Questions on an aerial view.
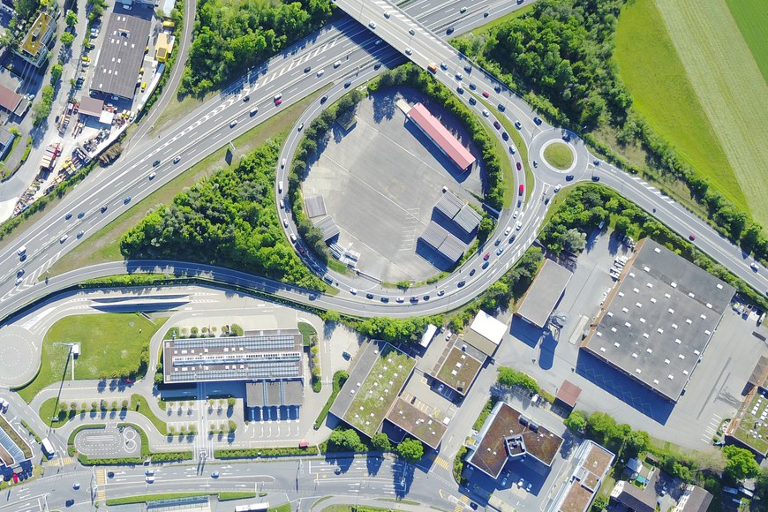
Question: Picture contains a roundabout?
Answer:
Yes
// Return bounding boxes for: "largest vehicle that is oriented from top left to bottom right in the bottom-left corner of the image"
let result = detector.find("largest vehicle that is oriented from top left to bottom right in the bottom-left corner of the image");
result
[41,438,54,455]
